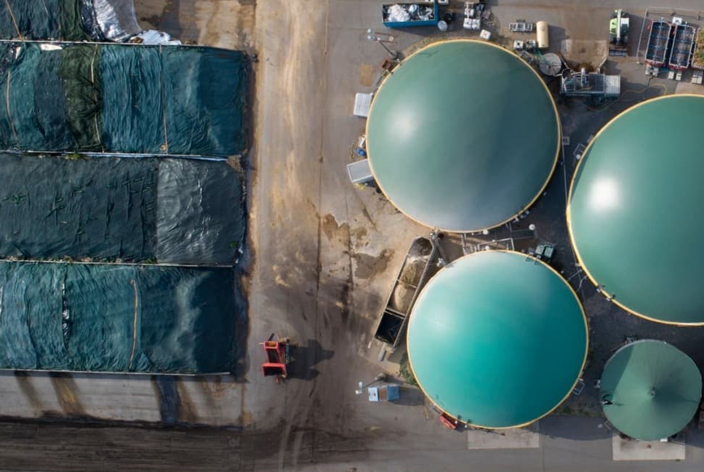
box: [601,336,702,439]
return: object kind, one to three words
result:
storage tank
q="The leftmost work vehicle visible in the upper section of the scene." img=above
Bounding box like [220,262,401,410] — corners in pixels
[609,8,628,61]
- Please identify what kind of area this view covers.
industrial area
